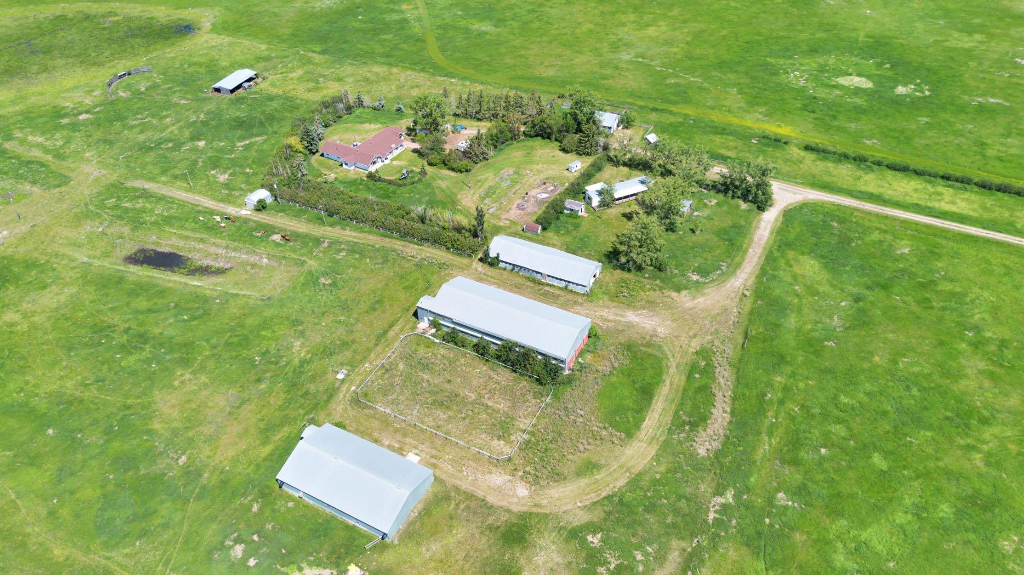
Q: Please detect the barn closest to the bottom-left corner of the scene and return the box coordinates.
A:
[278,423,432,542]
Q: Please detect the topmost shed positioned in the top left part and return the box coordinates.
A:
[213,69,257,95]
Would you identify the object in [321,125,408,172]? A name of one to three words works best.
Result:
house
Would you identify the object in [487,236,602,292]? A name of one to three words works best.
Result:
barn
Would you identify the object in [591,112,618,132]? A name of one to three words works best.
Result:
shed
